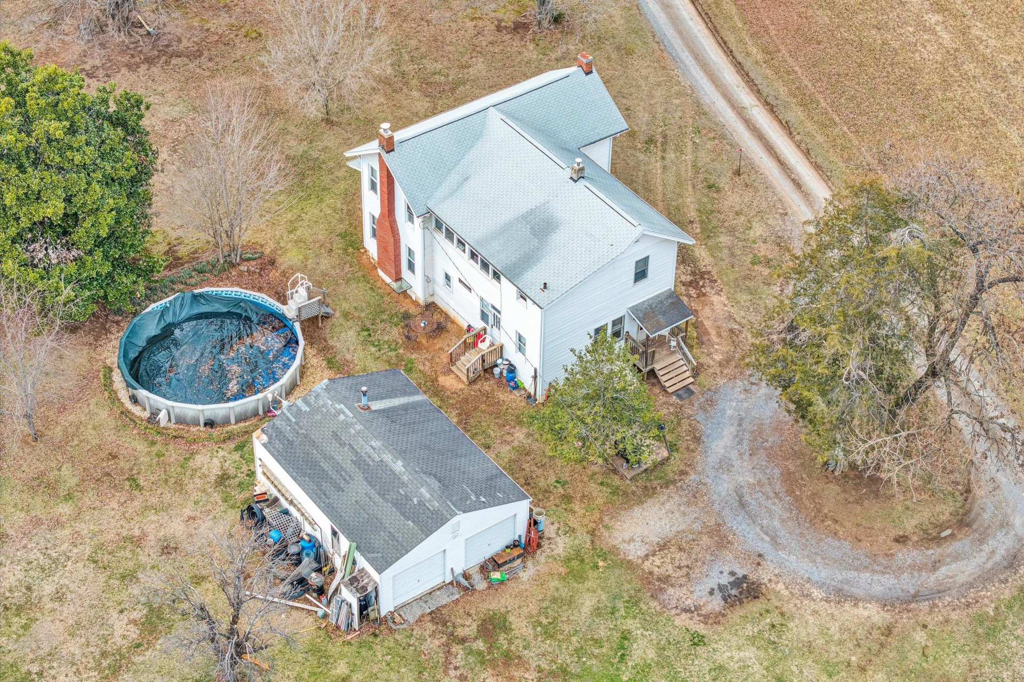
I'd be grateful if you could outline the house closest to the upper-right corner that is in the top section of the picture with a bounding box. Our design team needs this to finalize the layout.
[349,54,699,405]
